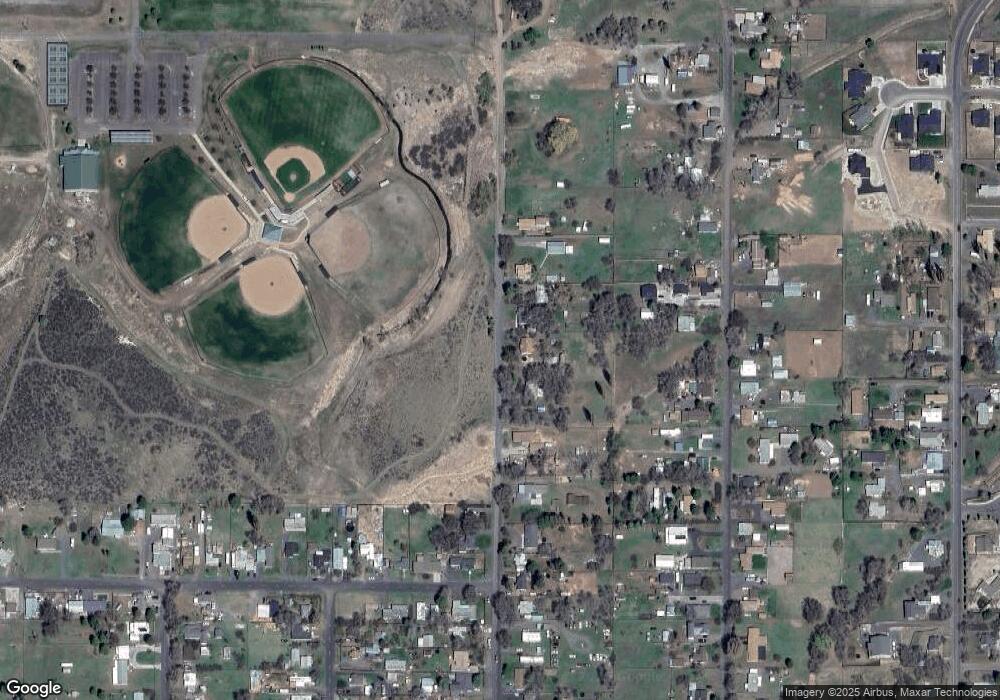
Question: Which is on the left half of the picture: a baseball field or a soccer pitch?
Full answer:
It is a baseball field that can be seen on the left half of the picture.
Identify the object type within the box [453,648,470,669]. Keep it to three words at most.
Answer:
house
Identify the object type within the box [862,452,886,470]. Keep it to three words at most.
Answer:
house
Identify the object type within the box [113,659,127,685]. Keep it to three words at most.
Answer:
barn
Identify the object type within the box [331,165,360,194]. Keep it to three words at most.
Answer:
building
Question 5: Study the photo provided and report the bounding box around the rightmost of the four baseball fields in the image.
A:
[308,183,439,322]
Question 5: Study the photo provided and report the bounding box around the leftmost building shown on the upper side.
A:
[61,149,99,191]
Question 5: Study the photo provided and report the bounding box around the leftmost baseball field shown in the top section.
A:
[118,145,250,294]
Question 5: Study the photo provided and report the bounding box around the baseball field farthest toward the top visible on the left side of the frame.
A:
[220,58,389,213]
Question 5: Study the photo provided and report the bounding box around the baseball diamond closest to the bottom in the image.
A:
[184,253,326,383]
